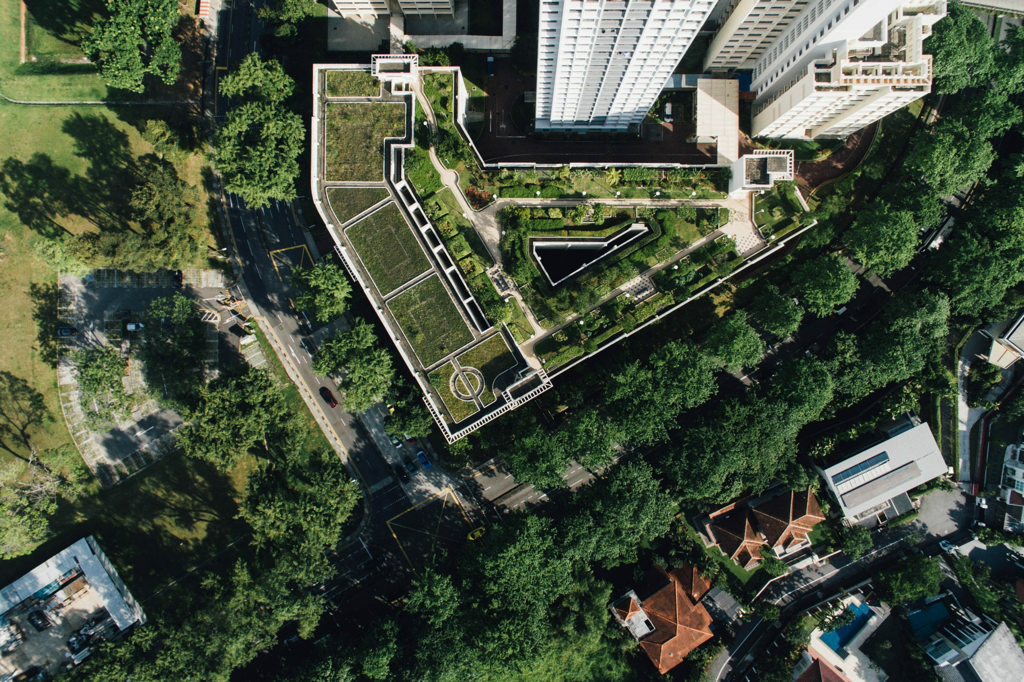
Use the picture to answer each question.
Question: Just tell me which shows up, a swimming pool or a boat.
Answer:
swimming pool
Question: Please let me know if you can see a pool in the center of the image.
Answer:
No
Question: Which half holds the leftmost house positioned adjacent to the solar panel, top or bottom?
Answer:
bottom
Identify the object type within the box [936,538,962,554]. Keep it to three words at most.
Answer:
car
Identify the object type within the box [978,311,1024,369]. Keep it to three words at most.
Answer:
house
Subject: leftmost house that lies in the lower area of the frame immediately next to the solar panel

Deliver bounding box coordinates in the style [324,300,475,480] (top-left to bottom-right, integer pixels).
[692,490,827,571]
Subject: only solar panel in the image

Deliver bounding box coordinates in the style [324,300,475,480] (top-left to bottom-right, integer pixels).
[832,451,889,484]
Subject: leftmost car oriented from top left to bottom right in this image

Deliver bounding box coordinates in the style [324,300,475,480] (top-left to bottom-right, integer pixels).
[320,388,340,410]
